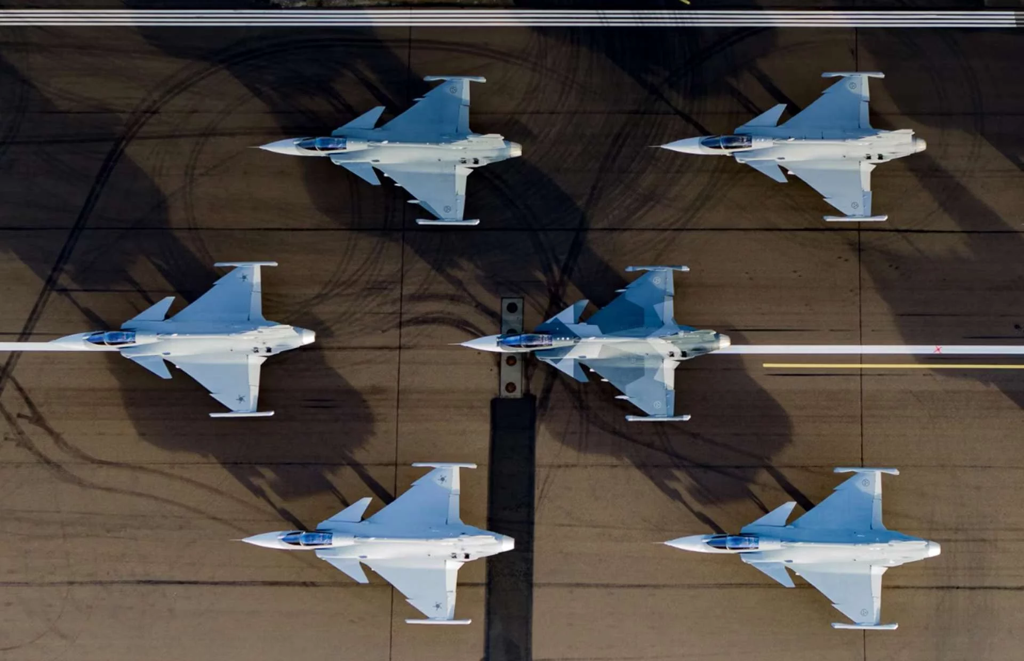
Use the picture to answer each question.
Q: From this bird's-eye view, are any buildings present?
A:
No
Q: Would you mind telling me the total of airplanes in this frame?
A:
6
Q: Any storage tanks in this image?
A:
No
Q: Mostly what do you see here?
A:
paved ground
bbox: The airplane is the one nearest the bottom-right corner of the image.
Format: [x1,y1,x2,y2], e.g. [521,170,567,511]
[664,467,941,631]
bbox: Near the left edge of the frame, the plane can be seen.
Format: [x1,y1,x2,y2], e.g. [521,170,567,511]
[40,260,316,419]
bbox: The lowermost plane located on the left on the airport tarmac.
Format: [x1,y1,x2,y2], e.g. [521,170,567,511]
[238,463,515,625]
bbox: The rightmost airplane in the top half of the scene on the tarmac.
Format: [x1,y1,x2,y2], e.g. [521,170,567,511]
[648,70,927,223]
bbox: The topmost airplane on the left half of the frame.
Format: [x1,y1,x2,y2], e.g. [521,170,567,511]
[255,75,521,226]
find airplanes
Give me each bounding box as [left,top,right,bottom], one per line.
[664,467,941,631]
[238,463,515,625]
[648,70,927,223]
[255,75,521,226]
[40,260,316,419]
[459,265,731,422]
